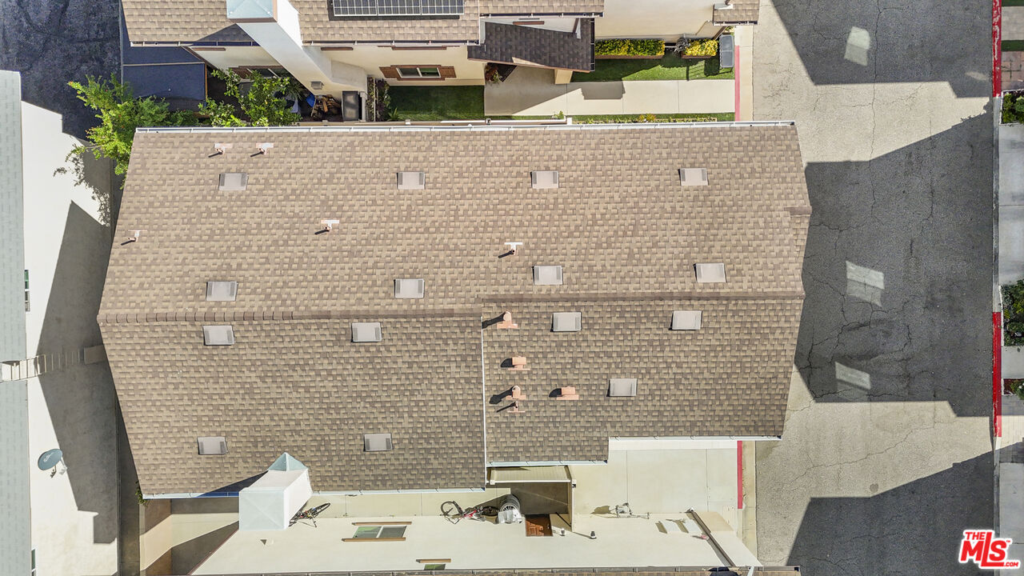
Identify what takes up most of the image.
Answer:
buildings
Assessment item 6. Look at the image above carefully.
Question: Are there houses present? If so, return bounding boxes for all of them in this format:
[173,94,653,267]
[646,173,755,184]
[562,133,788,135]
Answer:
[125,0,760,105]
[96,121,811,532]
